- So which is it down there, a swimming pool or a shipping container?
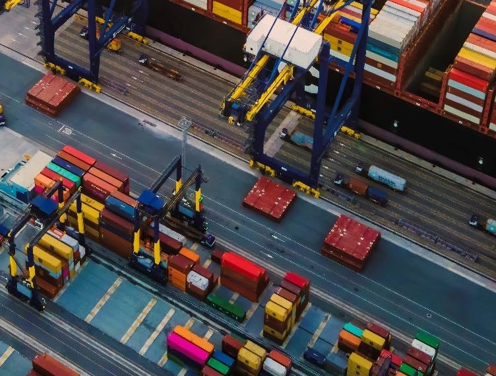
shipping container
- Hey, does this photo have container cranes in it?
Yes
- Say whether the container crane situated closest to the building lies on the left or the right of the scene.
left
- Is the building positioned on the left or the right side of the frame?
left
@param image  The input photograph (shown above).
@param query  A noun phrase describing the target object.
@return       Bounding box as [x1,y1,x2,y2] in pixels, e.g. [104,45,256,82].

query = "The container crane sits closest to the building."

[2,181,89,310]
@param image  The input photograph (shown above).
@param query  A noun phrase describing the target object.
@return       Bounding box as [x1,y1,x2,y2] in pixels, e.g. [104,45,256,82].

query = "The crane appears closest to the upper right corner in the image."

[224,0,372,196]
